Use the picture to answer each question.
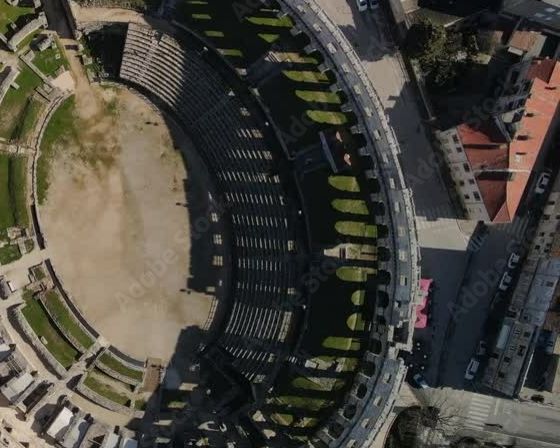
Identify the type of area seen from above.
residential area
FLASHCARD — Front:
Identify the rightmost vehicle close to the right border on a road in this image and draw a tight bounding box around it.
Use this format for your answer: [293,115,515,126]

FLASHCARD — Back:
[535,172,549,193]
